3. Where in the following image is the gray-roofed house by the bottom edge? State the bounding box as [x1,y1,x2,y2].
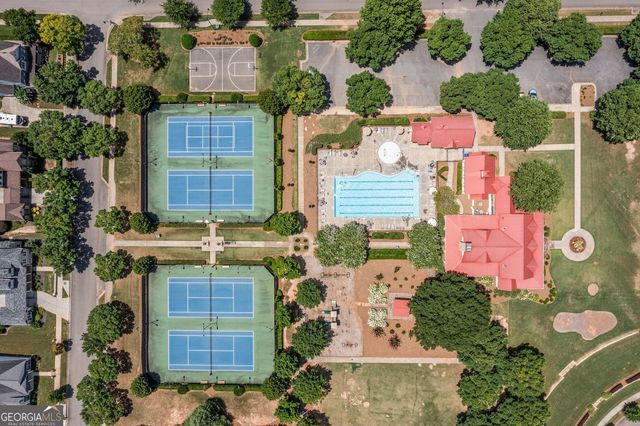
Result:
[0,355,36,409]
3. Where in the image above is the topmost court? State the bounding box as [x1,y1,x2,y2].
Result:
[189,47,256,92]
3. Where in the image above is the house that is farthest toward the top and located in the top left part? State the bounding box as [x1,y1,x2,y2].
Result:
[0,41,33,97]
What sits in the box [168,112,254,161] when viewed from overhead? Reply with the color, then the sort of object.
blue tennis court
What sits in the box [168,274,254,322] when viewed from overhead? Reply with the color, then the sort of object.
blue tennis court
